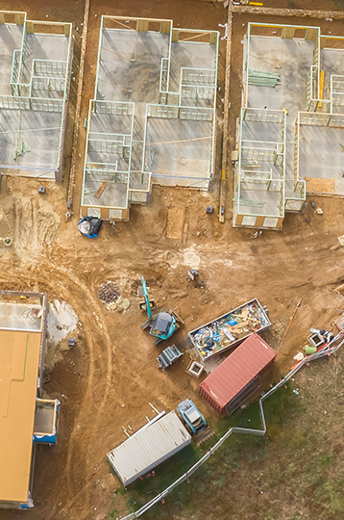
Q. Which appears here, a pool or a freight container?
freight container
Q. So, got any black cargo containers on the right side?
No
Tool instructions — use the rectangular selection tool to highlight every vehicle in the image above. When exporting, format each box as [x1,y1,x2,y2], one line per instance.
[171,395,215,447]
[139,273,187,349]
